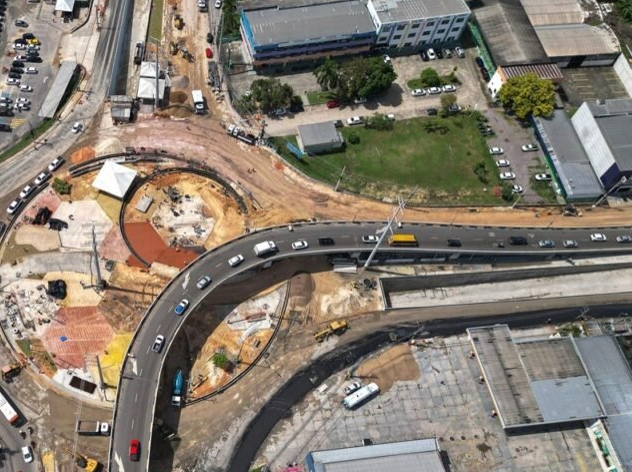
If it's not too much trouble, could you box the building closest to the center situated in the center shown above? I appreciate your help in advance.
[331,265,356,278]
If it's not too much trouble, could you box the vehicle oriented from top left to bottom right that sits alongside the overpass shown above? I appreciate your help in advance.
[74,445,99,472]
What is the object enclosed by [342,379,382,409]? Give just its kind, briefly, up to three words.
vehicle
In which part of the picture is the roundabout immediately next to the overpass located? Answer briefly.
left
